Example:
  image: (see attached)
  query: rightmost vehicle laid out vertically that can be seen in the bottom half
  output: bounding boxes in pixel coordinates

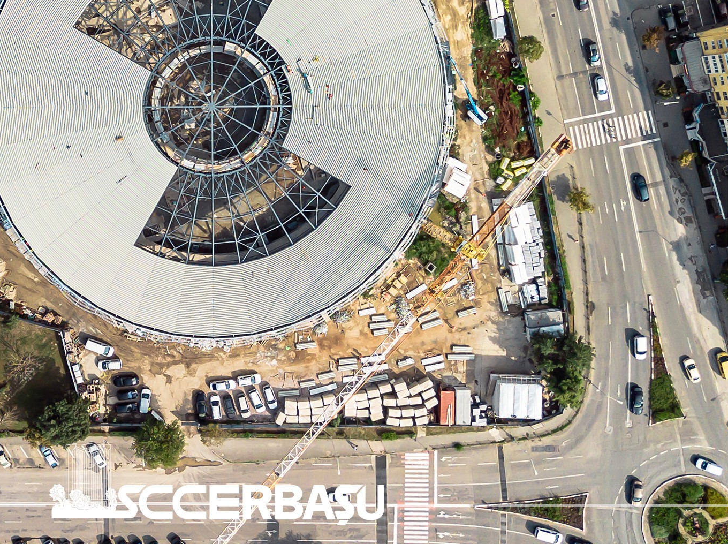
[715,350,728,377]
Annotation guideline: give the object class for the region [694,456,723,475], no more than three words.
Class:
car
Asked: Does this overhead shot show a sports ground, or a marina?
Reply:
sports ground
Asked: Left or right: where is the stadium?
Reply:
left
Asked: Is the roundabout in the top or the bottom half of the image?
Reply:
bottom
